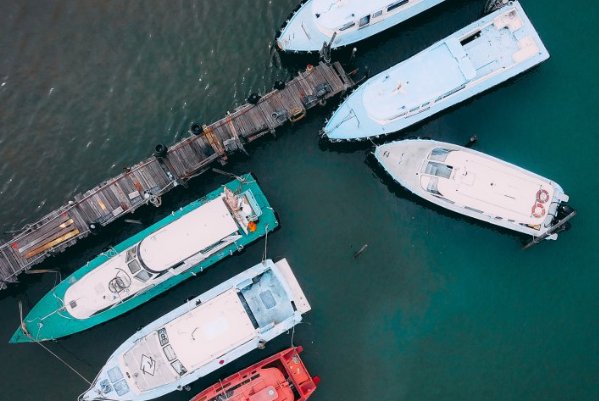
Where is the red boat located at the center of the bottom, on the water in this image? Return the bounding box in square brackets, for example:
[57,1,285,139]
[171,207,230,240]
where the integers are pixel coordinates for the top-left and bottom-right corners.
[188,345,318,401]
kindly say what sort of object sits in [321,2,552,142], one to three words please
boat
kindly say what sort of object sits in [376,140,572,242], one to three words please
boat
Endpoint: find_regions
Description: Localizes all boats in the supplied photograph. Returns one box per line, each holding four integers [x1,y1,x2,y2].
[376,140,572,242]
[188,345,318,401]
[7,174,279,345]
[275,0,474,53]
[72,259,310,401]
[321,2,552,142]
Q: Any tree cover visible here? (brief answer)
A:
No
